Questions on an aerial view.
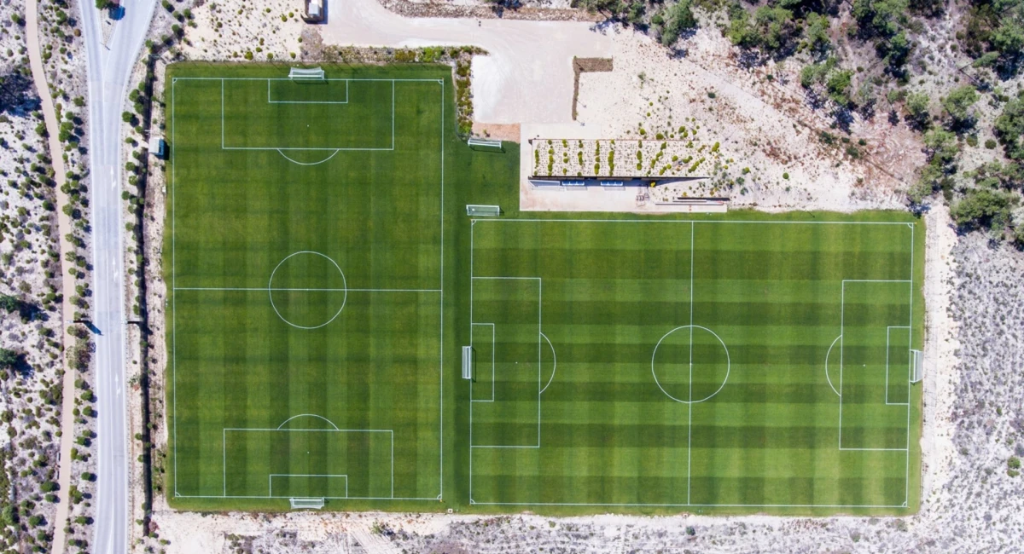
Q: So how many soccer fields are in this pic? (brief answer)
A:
2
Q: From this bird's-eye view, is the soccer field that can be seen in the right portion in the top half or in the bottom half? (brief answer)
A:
bottom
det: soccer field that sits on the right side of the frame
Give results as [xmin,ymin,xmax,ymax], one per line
[470,219,913,507]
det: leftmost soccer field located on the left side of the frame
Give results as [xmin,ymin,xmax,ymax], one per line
[173,78,443,500]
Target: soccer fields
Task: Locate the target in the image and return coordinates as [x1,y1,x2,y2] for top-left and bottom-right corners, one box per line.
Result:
[173,78,443,500]
[470,219,913,507]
